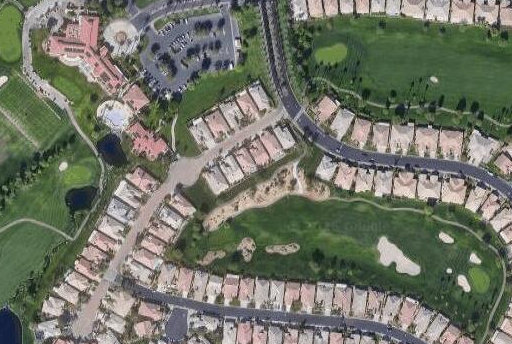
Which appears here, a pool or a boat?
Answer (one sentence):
Looking from above, you can make out a pool.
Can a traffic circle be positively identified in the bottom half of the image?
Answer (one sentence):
No, no traffic circle is visible in the bottom half of the image.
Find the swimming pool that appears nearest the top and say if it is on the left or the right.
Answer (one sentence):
It is on the left.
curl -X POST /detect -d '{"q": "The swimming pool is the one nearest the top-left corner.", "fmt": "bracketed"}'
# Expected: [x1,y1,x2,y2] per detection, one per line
[97,100,131,131]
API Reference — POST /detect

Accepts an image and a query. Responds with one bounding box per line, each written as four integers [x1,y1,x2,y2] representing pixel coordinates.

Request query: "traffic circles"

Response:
[104,19,140,60]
